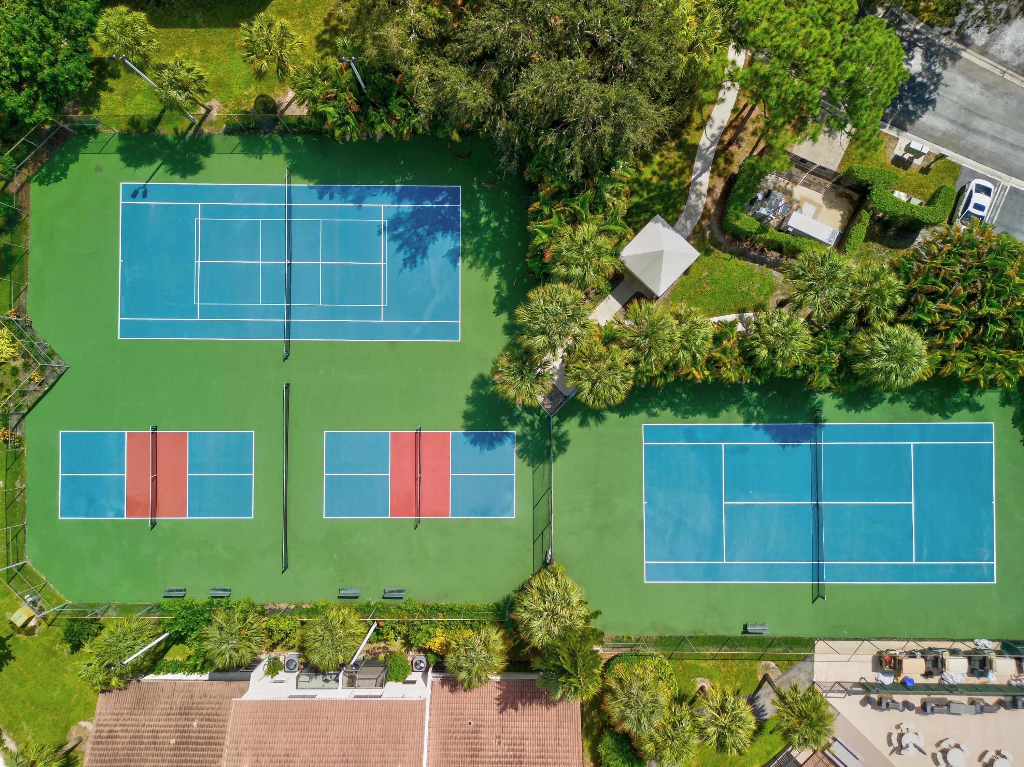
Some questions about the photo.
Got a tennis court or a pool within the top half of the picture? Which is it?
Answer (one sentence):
Visible within the top half of the picture is a tennis court.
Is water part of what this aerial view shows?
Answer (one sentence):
No, water can't be seen anywhere here.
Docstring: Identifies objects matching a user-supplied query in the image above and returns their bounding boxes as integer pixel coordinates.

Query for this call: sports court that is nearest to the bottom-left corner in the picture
[59,431,254,519]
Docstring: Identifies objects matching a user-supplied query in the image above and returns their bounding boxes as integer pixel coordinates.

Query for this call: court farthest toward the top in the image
[118,183,461,341]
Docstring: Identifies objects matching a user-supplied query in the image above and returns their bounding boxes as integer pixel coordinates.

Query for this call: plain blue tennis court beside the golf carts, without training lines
[643,422,996,583]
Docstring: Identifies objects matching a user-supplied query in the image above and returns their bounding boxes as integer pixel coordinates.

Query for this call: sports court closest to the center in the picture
[324,431,516,518]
